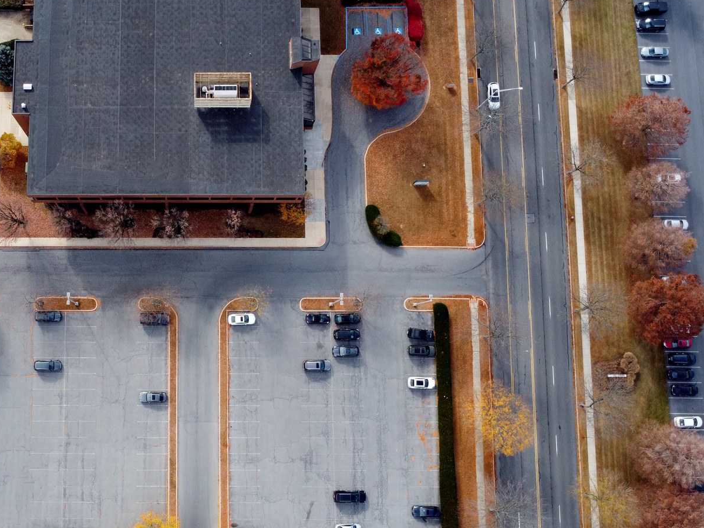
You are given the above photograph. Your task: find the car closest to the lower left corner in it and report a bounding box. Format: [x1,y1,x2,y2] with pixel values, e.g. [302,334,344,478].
[33,360,63,373]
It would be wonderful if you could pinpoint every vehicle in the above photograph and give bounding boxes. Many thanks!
[139,313,169,325]
[635,19,666,31]
[666,352,696,366]
[668,383,698,397]
[139,391,167,404]
[634,1,668,14]
[332,490,366,504]
[407,377,435,390]
[306,313,329,324]
[228,314,255,325]
[33,360,63,373]
[640,45,668,59]
[35,310,63,323]
[332,329,359,341]
[333,523,361,528]
[663,338,692,349]
[333,313,360,324]
[303,361,330,372]
[411,500,440,519]
[645,74,670,86]
[408,345,435,358]
[666,368,694,380]
[331,345,359,358]
[673,415,702,429]
[405,328,434,340]
[486,83,501,110]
